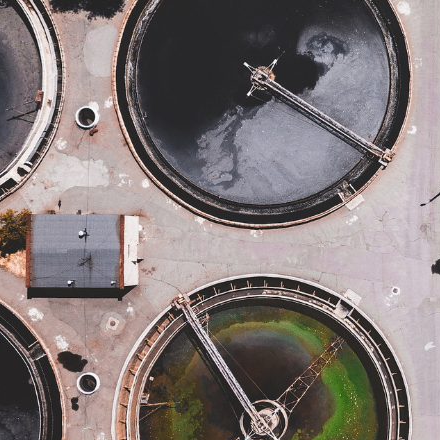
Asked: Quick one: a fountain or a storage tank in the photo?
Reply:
storage tank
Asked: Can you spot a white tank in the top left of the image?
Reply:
Yes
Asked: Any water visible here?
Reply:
Yes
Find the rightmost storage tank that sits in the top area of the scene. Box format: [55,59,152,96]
[113,0,410,227]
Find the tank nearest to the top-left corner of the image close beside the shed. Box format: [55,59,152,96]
[0,0,65,199]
